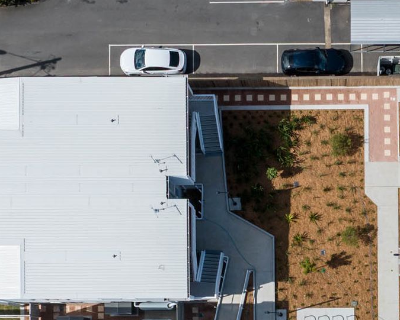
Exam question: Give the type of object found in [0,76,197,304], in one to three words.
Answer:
building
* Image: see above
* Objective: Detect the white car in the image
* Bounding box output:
[121,43,187,78]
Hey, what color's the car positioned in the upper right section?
black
